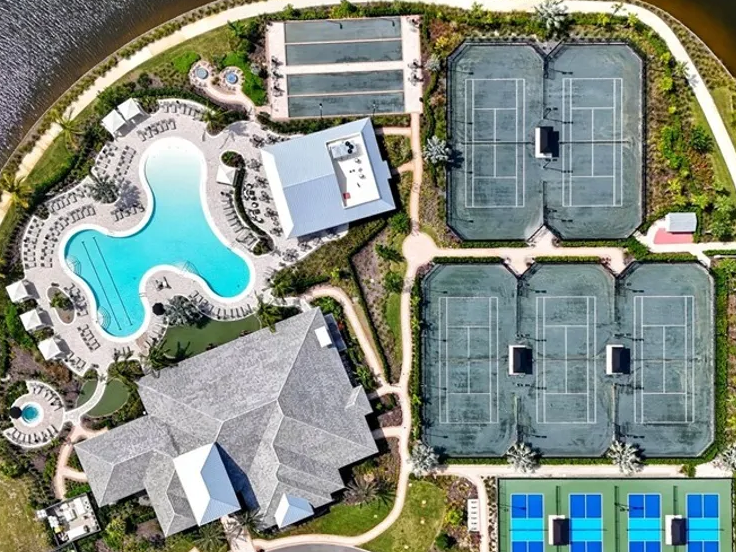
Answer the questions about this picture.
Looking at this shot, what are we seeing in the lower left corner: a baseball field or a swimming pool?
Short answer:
swimming pool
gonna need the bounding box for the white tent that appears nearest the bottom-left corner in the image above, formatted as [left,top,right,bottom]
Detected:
[40,337,66,360]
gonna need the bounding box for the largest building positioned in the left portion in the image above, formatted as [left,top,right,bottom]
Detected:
[74,308,377,537]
